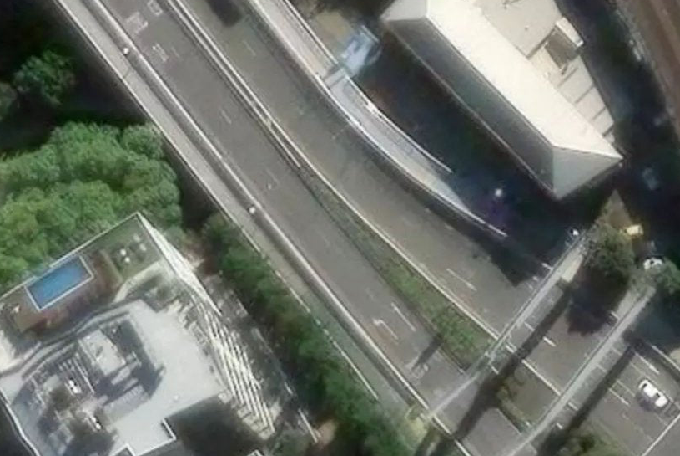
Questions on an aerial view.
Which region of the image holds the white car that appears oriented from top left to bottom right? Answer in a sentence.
The white car that appears oriented from top left to bottom right sits in the bottom right section of the image.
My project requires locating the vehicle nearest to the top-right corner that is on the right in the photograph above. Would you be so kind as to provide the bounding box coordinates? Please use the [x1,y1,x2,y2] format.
[640,163,662,194]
